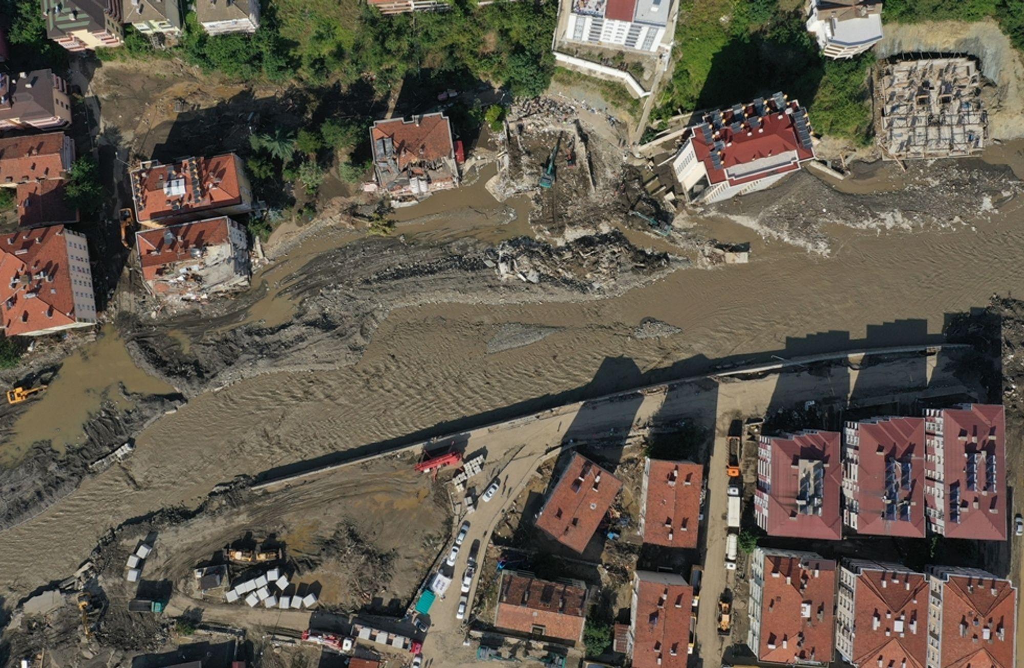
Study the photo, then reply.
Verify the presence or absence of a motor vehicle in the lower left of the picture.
Yes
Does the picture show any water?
Yes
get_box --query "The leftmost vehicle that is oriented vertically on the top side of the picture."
[117,205,133,252]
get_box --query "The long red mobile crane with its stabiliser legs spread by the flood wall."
[414,440,464,485]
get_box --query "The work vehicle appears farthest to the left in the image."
[4,384,52,404]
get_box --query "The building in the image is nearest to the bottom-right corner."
[923,564,1018,668]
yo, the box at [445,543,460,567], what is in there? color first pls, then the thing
white car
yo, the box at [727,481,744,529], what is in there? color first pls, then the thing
white vehicle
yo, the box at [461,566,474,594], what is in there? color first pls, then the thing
white vehicle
